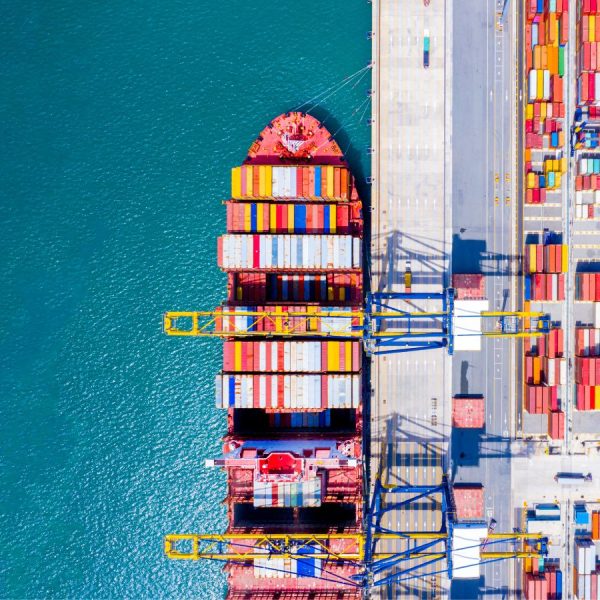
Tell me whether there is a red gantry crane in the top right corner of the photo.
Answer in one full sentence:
No, there is no red gantry crane in the top right corner of the photo.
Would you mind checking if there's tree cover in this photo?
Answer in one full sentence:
No, the picture contains no tree cover.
